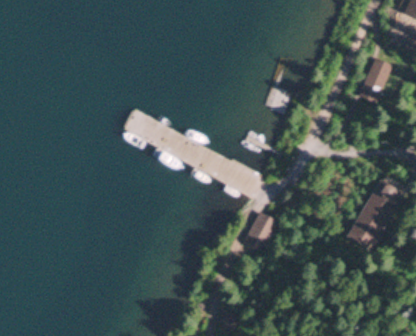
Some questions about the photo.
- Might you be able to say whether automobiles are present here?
No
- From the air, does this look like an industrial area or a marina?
marina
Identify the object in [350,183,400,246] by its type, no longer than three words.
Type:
house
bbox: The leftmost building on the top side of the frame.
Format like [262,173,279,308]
[366,58,393,92]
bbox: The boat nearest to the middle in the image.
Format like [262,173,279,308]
[192,168,212,182]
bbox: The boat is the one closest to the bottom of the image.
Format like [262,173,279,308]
[222,184,240,197]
